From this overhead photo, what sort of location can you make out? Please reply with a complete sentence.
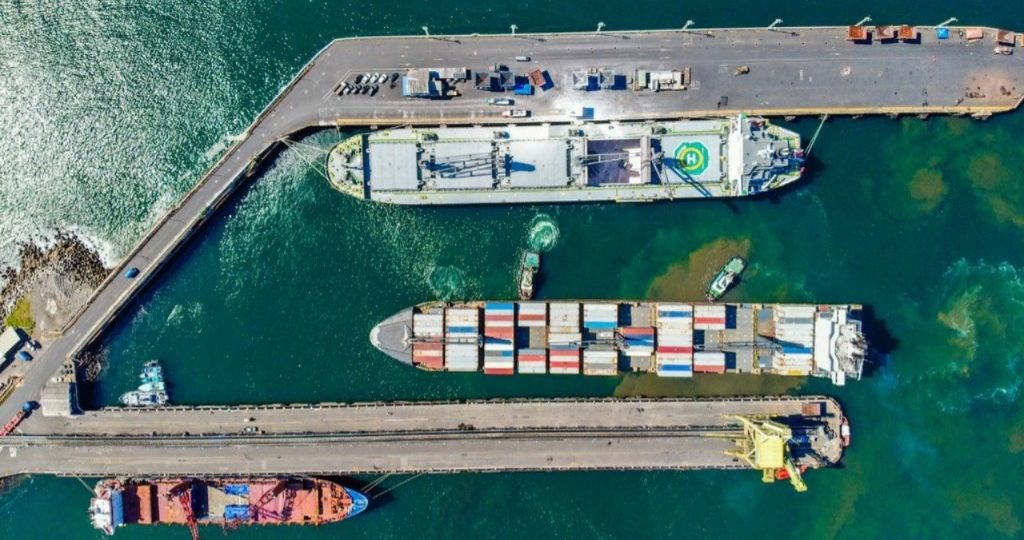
What you see here is a port.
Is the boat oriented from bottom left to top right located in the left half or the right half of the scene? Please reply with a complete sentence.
The boat oriented from bottom left to top right sits on the right side.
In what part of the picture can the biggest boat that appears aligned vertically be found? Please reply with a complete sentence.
You can find the biggest boat that appears aligned vertically in the center area of the picture.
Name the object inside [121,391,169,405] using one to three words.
boat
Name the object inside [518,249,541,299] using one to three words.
boat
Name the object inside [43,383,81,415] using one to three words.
house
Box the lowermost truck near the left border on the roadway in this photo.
[0,402,33,435]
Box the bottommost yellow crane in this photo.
[701,411,809,491]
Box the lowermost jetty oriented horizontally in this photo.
[0,393,846,478]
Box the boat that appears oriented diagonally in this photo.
[704,252,750,302]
